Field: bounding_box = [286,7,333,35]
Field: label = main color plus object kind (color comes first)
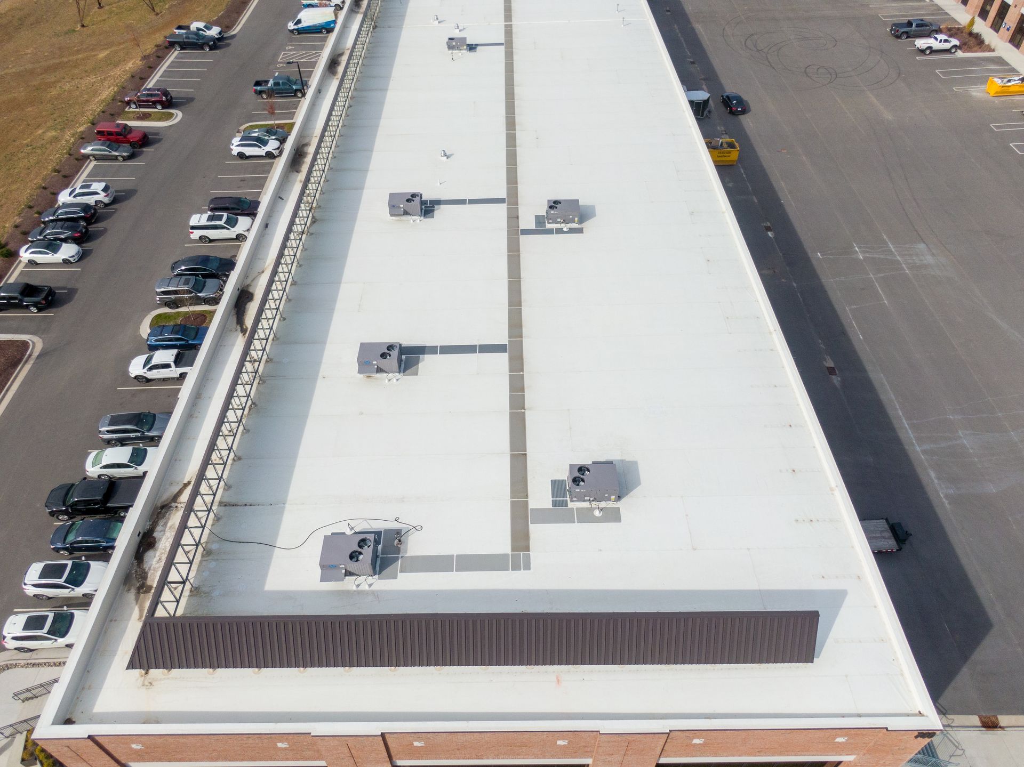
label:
white van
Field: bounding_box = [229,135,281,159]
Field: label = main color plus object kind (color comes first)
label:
white car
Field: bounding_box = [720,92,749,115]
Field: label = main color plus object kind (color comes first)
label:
black car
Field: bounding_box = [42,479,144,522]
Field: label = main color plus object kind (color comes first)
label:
black truck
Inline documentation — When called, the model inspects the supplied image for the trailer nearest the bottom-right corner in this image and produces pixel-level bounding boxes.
[858,518,919,552]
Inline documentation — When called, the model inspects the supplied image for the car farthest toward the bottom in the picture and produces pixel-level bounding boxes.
[0,609,88,654]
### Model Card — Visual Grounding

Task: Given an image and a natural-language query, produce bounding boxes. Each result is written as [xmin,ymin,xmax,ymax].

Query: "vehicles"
[125,351,199,384]
[241,121,293,140]
[14,239,82,266]
[80,444,158,480]
[0,609,88,654]
[250,73,309,99]
[54,179,118,208]
[720,92,749,115]
[78,140,133,161]
[171,21,224,40]
[25,217,90,243]
[15,559,108,602]
[188,212,253,244]
[286,7,333,35]
[914,32,965,55]
[151,275,225,310]
[165,255,236,282]
[123,84,174,110]
[143,322,209,351]
[201,190,261,219]
[92,410,171,448]
[42,479,144,522]
[888,16,943,39]
[0,282,54,313]
[36,197,101,222]
[47,519,124,557]
[87,121,149,149]
[229,135,281,159]
[301,0,347,10]
[165,30,218,51]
